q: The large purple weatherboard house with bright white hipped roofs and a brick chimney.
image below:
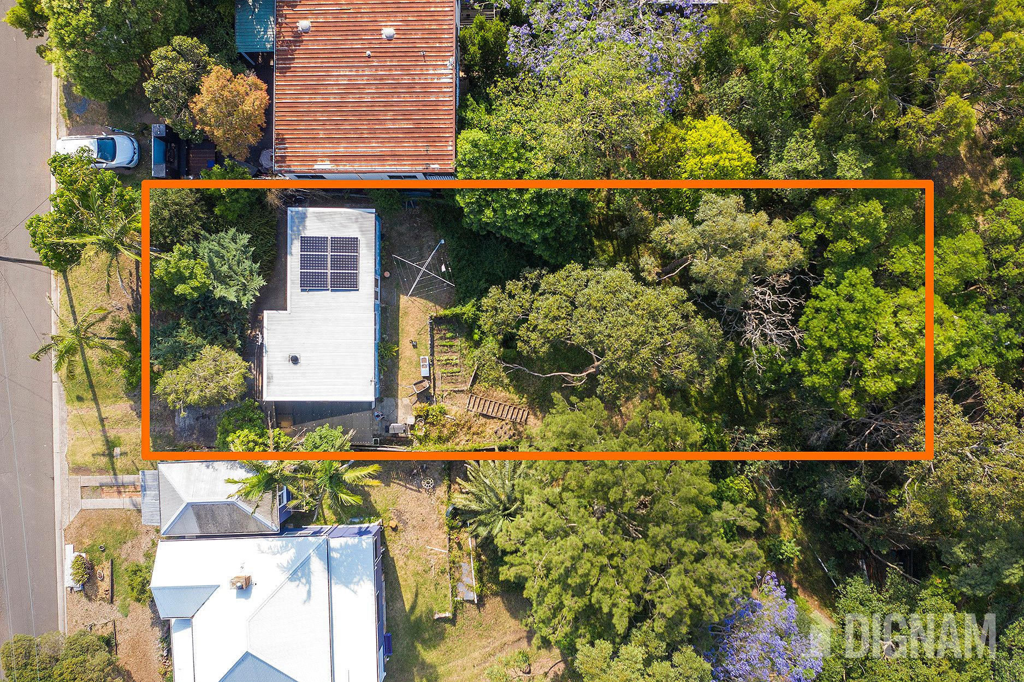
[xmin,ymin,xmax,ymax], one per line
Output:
[150,520,389,682]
